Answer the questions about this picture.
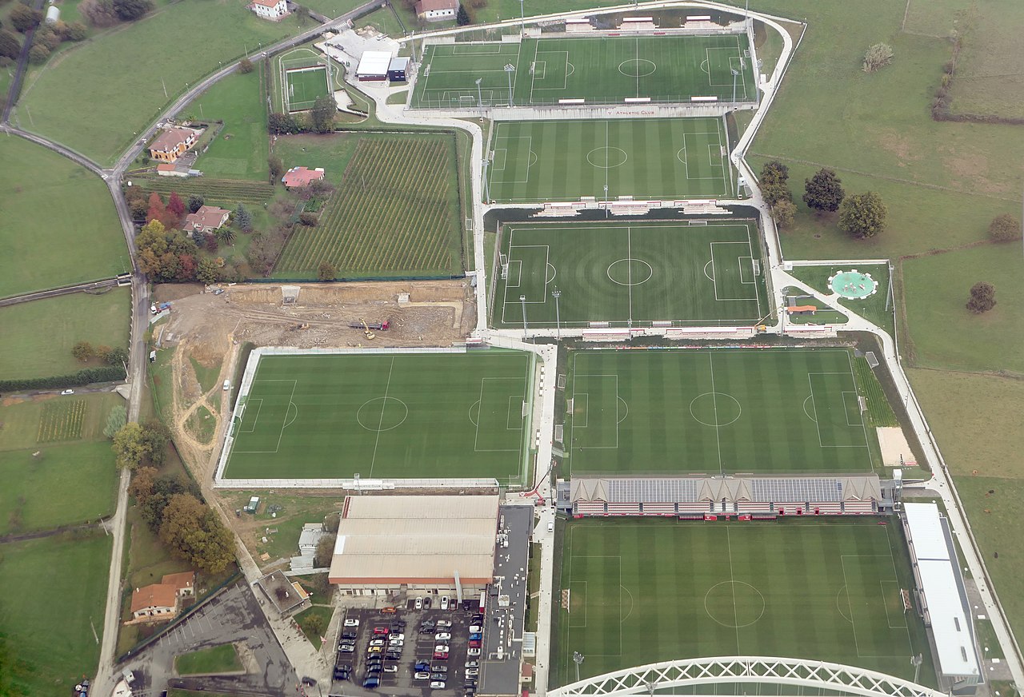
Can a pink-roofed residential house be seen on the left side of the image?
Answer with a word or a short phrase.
Yes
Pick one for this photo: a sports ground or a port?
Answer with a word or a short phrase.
sports ground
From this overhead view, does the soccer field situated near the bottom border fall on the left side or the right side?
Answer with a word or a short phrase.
right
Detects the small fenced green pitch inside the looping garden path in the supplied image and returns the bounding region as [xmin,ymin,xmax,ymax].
[288,61,330,112]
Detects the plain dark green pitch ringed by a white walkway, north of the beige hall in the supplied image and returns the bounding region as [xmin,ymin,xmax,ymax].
[217,351,537,482]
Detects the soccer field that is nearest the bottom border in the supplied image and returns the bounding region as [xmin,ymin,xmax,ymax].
[552,520,943,697]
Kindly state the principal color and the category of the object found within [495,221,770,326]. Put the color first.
green soccer field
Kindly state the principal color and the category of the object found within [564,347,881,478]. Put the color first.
green soccer field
